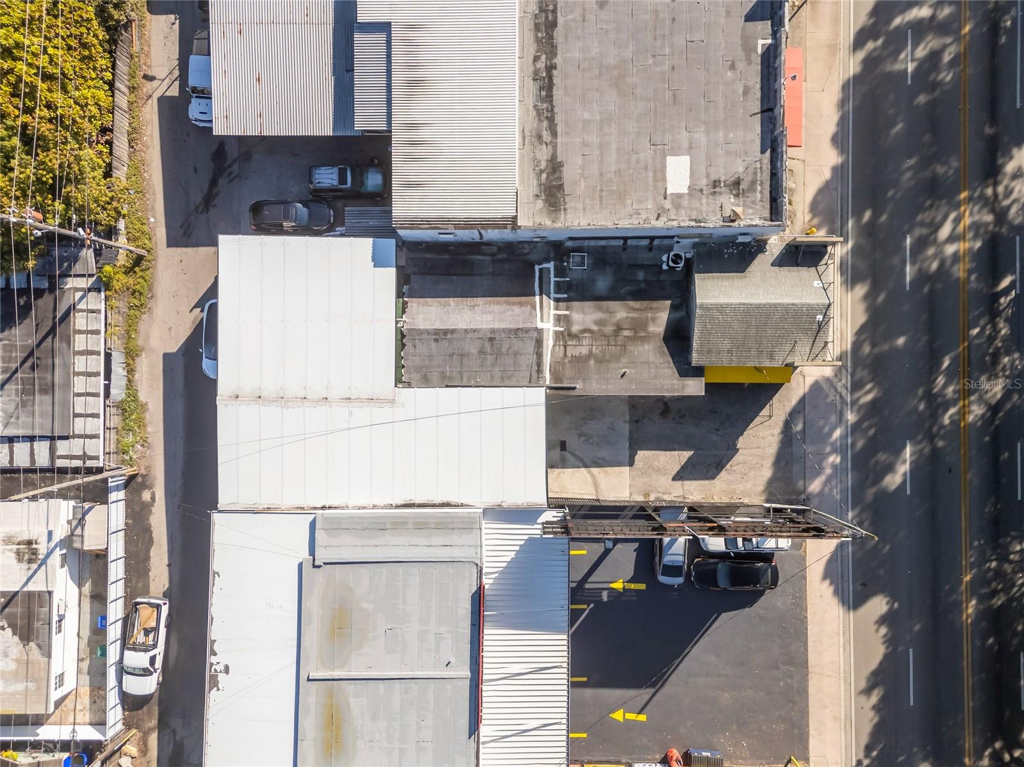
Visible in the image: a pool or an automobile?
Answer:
automobile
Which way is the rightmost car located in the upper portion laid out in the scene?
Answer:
horizontally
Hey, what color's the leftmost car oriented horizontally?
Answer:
black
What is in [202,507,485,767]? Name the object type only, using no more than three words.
building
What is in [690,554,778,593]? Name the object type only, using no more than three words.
car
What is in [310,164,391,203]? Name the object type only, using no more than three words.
car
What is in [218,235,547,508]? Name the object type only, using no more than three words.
building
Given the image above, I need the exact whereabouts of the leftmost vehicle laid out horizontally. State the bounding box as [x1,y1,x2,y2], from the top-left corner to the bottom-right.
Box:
[252,198,336,235]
